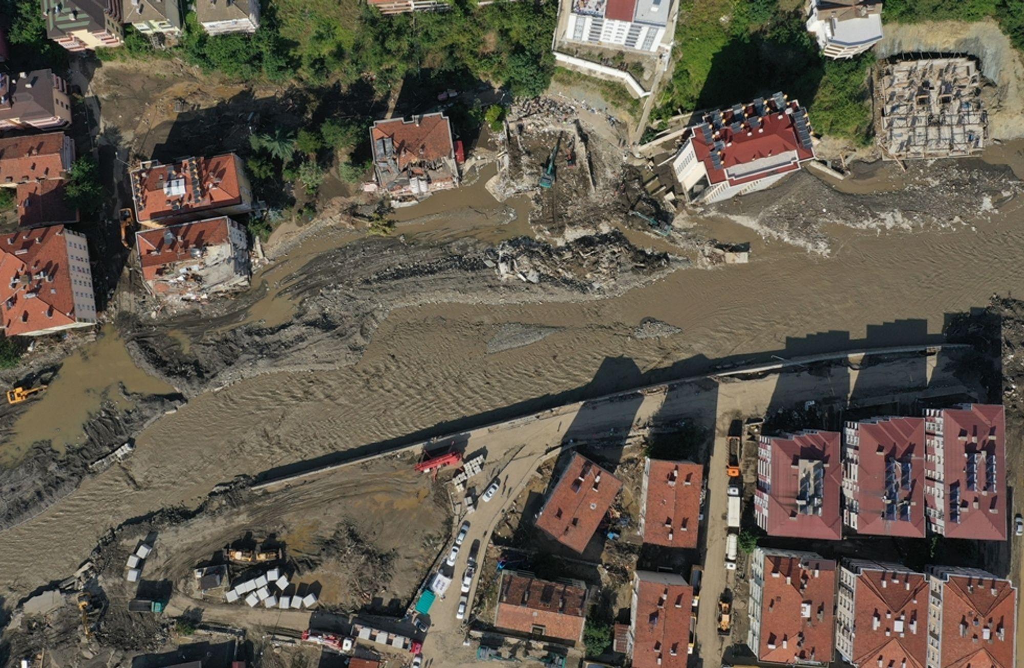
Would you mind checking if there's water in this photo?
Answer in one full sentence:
Yes, water shows up in the scene.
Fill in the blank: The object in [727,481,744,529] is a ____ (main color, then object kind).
white vehicle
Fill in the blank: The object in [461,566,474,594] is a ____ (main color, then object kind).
white vehicle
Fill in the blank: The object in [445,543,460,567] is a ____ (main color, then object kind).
white car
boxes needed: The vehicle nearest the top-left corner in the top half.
[117,205,133,252]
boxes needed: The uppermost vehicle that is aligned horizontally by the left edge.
[4,384,52,404]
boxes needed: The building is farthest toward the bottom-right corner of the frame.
[923,564,1018,668]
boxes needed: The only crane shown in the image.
[414,440,464,485]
